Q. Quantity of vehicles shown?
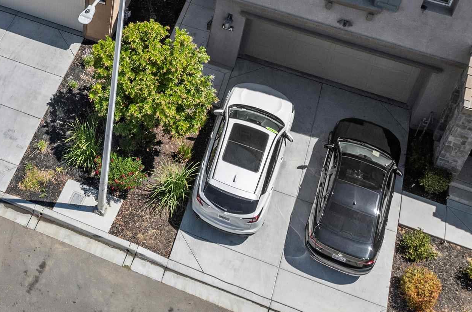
2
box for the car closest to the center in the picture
[193,81,298,238]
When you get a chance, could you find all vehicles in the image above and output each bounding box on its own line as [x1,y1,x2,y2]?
[193,81,298,238]
[305,109,411,278]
